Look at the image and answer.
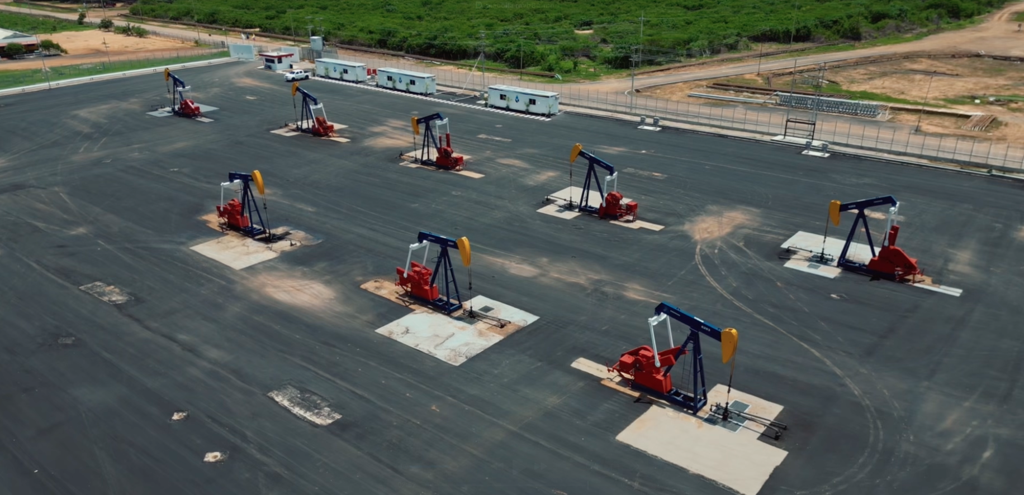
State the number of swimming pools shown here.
none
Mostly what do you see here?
paved ground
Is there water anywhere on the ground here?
No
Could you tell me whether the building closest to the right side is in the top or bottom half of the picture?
top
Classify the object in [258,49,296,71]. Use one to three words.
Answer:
building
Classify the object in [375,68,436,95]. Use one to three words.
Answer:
building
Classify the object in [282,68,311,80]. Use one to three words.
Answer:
vehicle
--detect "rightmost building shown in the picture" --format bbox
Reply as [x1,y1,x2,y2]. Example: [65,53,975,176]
[486,85,559,115]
